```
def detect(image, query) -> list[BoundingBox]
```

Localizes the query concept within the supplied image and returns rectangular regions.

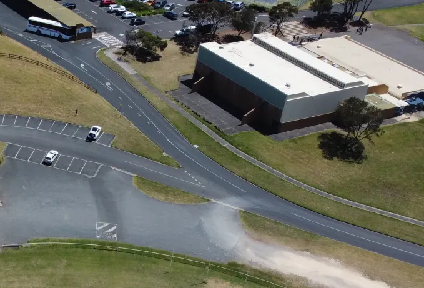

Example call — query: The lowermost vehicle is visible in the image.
[42,150,59,163]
